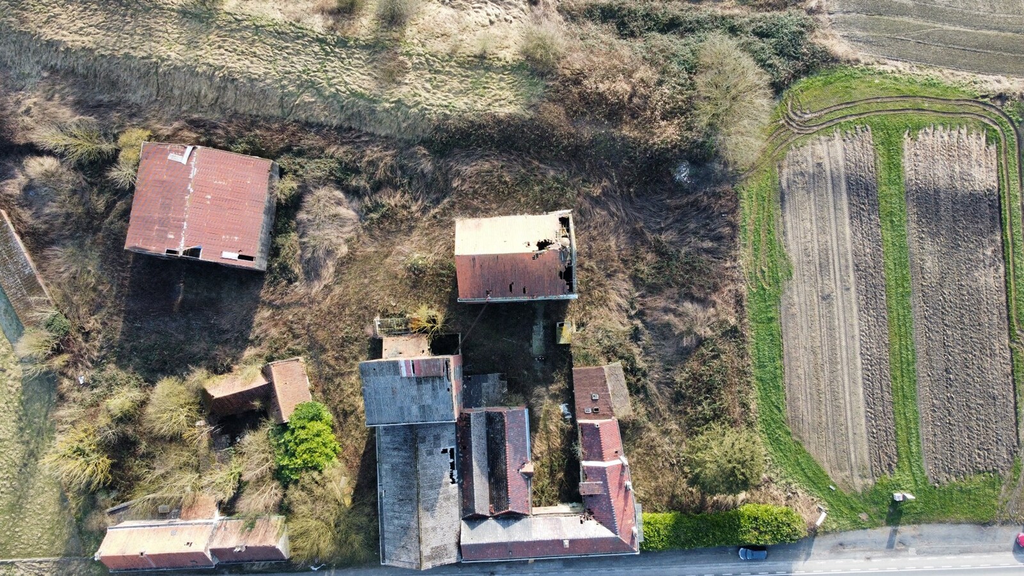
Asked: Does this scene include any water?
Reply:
No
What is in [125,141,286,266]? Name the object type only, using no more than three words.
barn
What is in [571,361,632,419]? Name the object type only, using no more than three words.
house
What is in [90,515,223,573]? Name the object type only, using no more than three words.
house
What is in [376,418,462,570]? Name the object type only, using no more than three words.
building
